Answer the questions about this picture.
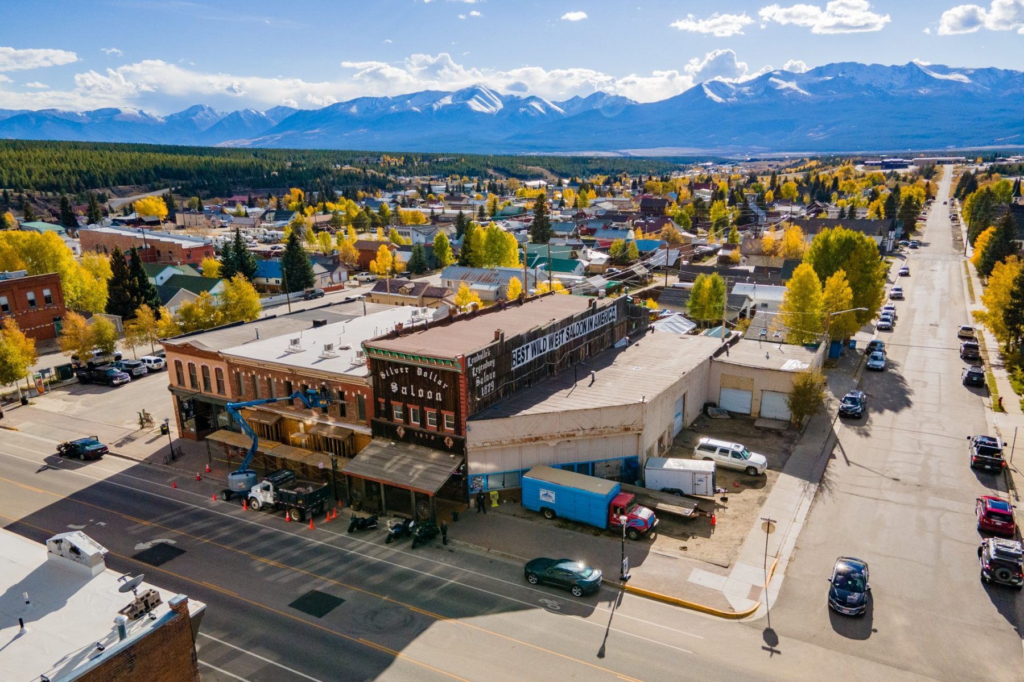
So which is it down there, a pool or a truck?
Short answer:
truck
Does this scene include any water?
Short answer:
No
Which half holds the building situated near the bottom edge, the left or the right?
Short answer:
left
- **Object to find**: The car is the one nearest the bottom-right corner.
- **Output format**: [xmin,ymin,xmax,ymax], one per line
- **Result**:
[984,535,1024,584]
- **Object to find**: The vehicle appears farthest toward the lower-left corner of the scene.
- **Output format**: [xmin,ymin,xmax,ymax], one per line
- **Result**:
[53,430,106,460]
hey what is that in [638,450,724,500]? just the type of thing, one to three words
trailer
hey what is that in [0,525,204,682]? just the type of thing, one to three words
building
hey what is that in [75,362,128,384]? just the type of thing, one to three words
truck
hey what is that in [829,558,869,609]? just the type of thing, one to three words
car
